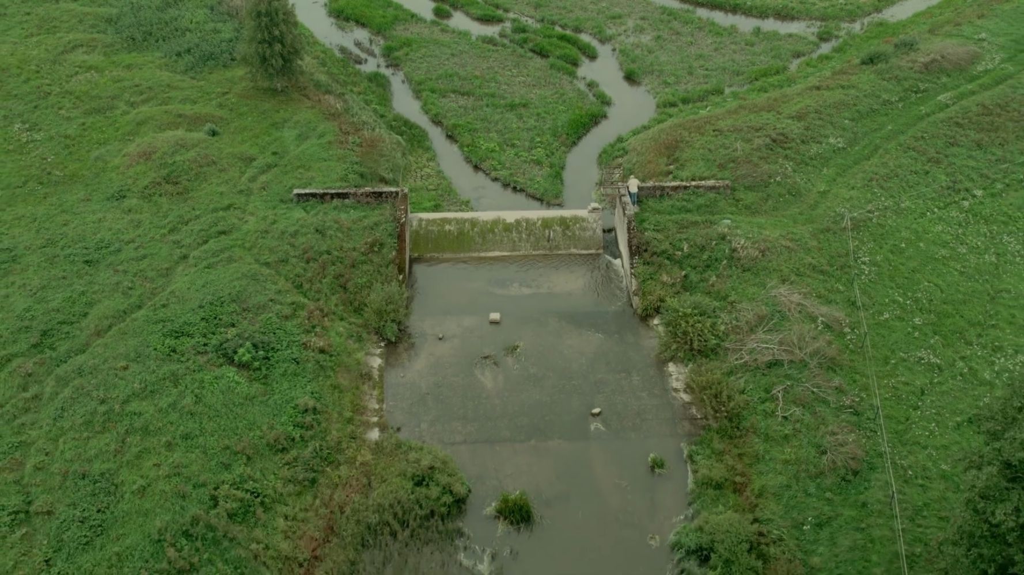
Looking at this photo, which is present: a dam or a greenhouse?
dam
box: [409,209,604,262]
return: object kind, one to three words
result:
dam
